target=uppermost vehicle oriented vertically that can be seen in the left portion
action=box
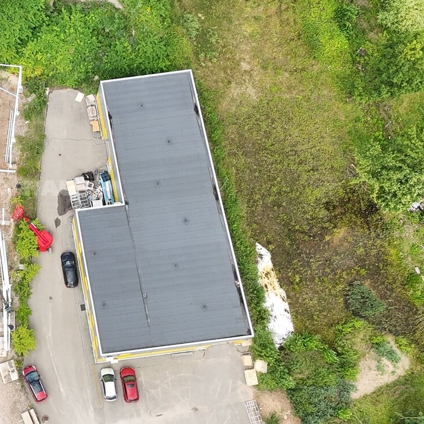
[60,252,78,289]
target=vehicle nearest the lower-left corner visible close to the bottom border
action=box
[23,365,49,405]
